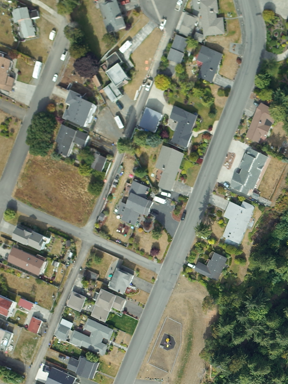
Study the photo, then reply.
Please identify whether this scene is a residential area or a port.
residential area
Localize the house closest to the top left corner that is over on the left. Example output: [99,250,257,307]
[11,7,42,41]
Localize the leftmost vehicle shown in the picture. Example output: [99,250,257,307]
[30,60,43,79]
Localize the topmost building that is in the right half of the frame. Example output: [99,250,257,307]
[179,0,226,45]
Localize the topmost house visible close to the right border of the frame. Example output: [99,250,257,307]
[245,101,274,142]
